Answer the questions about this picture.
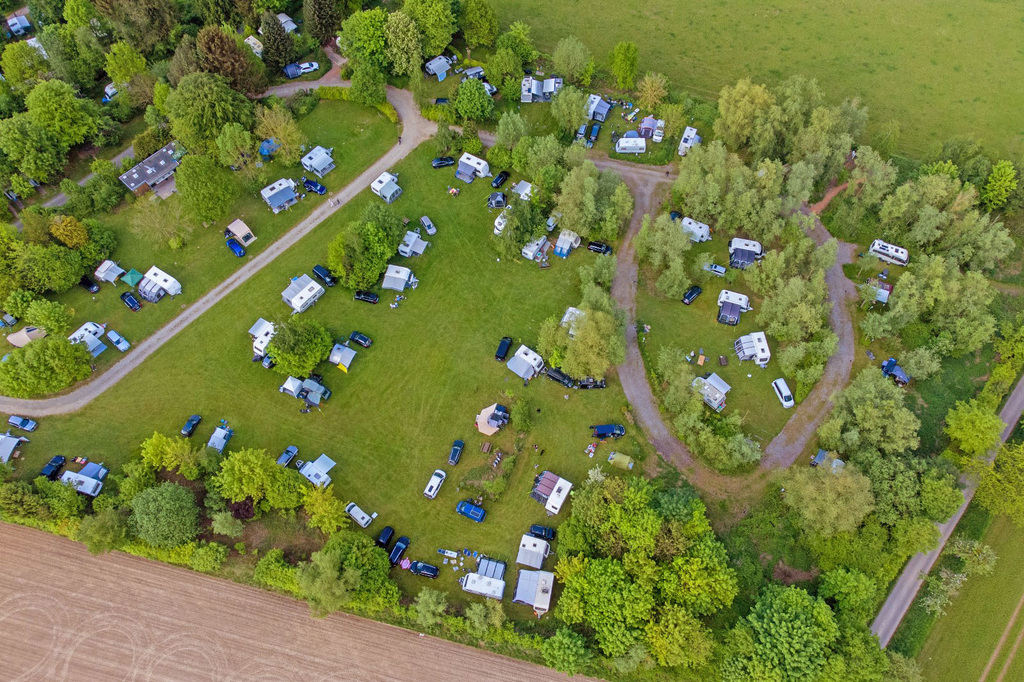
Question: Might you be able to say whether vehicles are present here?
Yes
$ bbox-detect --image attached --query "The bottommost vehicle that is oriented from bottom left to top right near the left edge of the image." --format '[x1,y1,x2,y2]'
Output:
[38,453,70,477]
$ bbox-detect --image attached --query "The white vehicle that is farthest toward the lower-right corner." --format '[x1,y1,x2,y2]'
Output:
[772,381,793,409]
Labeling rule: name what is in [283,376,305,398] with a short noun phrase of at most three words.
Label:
gazebo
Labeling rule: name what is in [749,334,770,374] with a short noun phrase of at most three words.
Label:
camper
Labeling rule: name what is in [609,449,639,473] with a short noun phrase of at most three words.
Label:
tent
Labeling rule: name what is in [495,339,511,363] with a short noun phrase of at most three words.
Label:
vehicle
